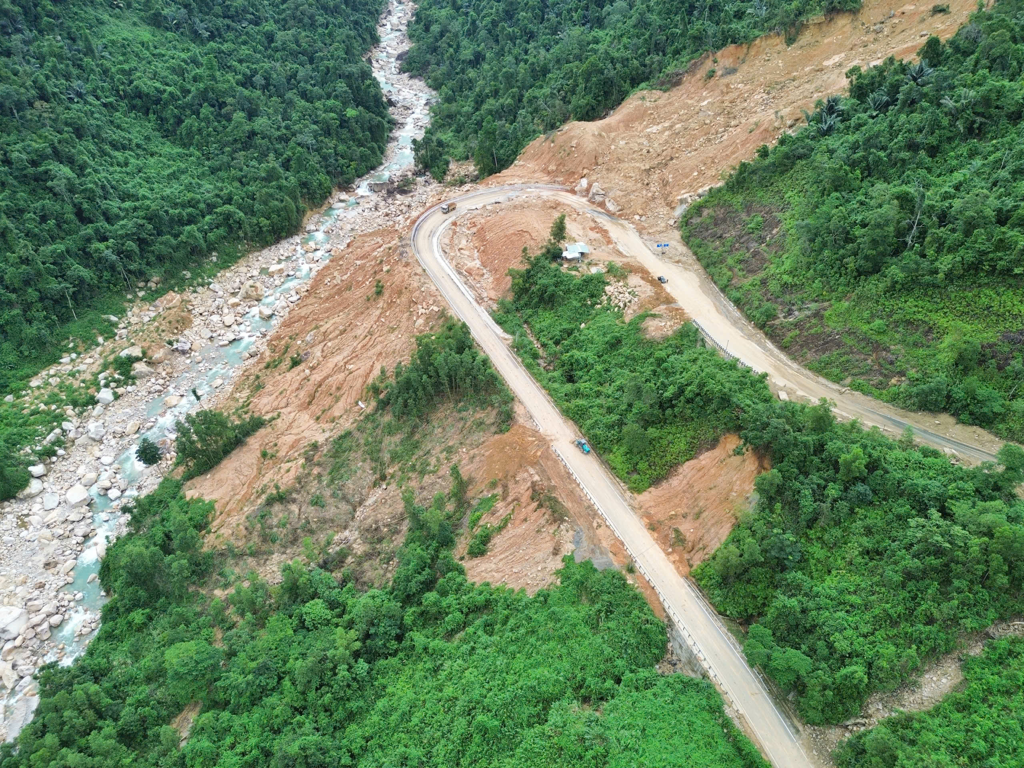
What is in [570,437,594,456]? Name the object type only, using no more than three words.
work vehicle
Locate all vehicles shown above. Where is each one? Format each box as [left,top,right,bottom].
[570,437,594,456]
[659,275,667,284]
[441,204,457,215]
